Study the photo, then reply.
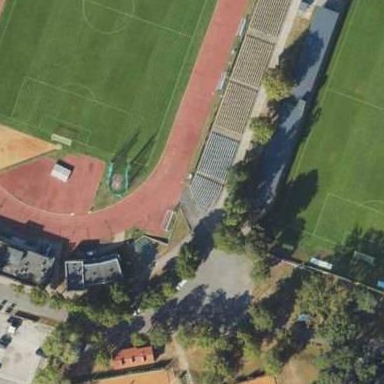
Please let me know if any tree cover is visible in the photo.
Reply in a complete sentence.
Yes, there's tree cover in this view.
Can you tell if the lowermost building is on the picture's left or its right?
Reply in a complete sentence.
The lowermost building sits on the left side.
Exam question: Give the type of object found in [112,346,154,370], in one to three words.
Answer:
building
